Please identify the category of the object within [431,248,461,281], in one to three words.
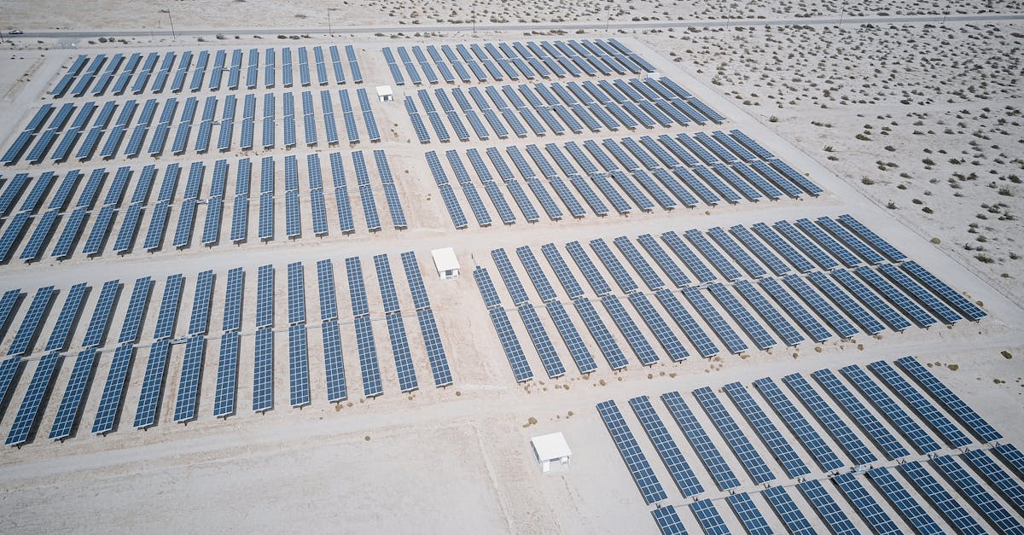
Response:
shed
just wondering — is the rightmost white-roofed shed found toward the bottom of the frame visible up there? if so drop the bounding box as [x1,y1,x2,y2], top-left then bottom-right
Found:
[530,433,571,472]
